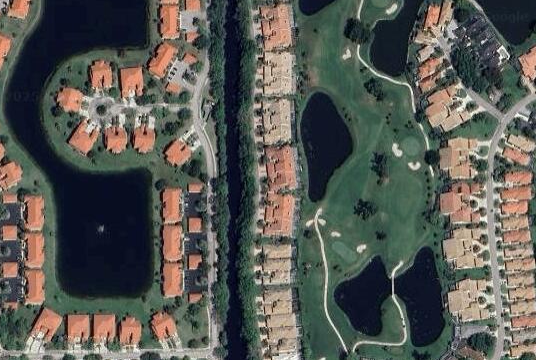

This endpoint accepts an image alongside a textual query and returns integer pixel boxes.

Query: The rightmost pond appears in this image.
[334,247,443,346]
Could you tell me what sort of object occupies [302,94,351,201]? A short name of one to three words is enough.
pond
